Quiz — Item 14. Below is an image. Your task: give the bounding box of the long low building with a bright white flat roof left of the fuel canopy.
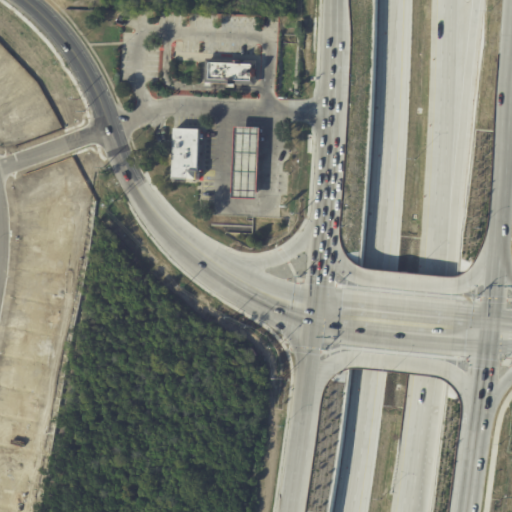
[172,128,198,186]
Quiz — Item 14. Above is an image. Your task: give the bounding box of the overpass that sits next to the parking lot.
[320,229,512,410]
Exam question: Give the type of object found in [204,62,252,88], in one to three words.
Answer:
building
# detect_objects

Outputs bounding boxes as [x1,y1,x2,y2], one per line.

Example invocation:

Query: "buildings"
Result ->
[204,62,252,88]
[172,128,198,186]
